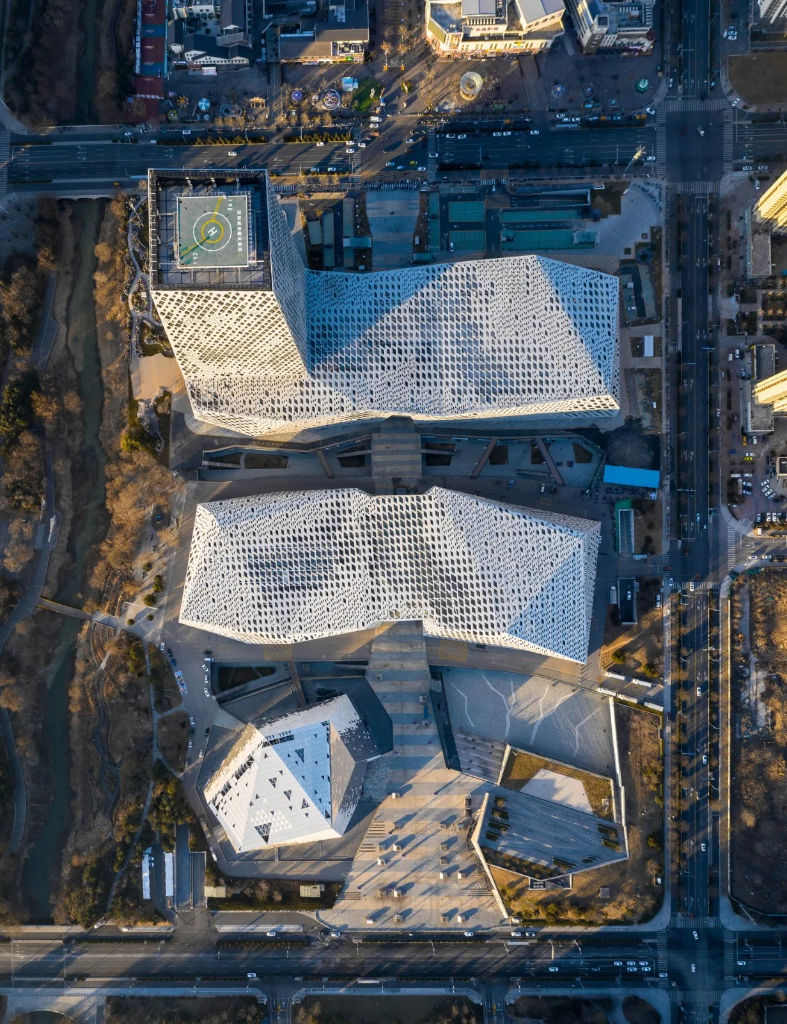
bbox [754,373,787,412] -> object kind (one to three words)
building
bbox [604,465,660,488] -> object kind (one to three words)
shed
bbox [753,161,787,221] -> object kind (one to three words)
building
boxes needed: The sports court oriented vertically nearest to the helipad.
[123,0,164,123]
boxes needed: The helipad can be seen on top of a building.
[173,191,253,272]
